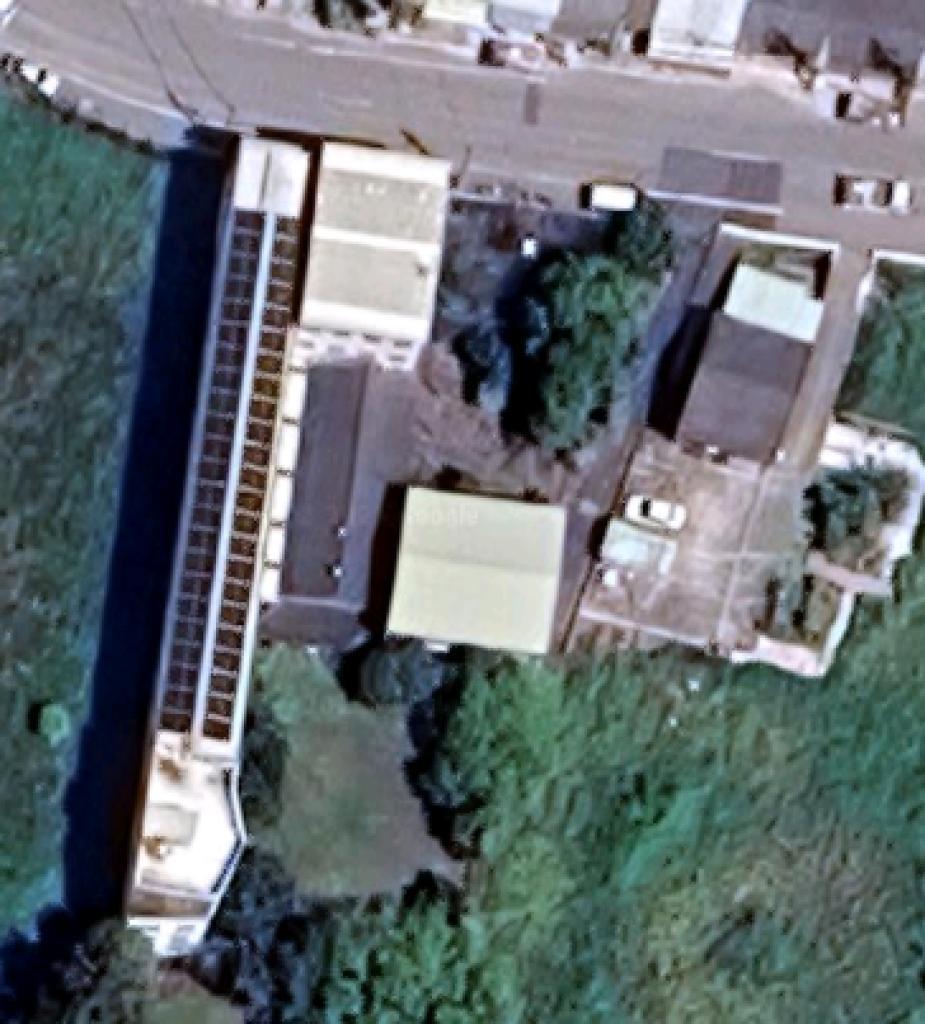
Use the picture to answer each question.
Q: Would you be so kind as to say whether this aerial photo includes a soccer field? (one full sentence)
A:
No, I can see no soccer field in this picture.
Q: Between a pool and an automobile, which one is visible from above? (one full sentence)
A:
Of the two, only an automobile appears.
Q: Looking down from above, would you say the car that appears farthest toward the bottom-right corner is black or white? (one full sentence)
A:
The car that appears farthest toward the bottom-right corner is white.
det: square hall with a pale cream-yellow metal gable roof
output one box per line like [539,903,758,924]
[387,487,568,655]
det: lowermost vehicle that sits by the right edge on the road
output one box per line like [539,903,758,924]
[834,176,910,209]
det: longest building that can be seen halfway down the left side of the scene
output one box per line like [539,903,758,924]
[129,139,318,955]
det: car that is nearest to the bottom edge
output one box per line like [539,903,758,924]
[623,496,689,532]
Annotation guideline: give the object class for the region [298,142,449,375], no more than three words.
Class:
building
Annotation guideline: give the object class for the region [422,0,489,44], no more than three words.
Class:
house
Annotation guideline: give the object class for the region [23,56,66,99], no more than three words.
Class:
car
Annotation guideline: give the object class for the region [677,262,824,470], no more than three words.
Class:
house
